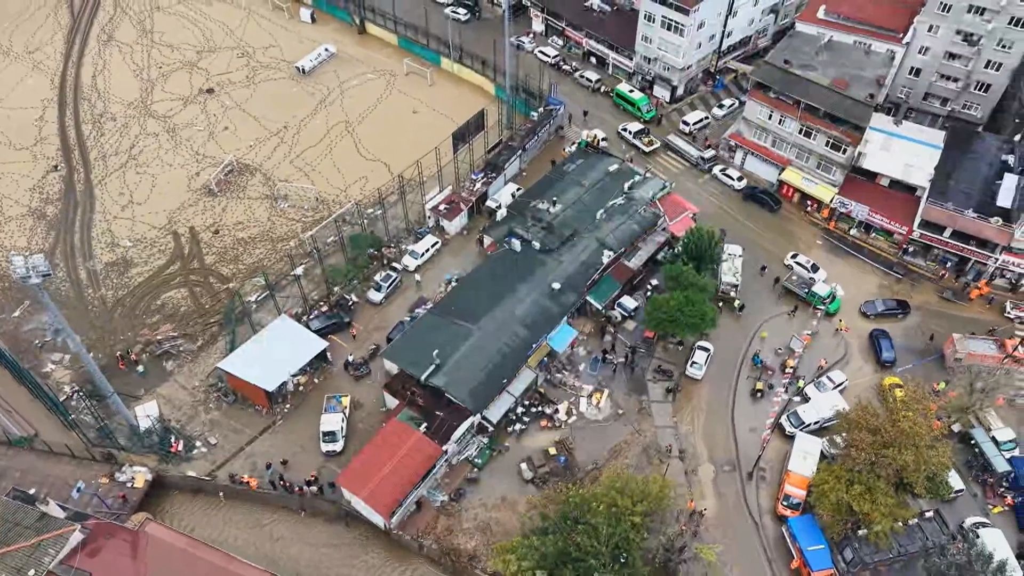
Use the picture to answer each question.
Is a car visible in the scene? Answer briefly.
Yes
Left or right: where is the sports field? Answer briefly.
left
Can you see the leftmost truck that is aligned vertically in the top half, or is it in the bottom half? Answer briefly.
bottom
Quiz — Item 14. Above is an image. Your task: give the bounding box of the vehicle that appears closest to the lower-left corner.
[318,396,350,457]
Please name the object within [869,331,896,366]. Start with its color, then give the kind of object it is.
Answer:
blue car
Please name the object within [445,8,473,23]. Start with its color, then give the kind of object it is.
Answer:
white car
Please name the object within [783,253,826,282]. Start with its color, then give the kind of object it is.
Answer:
white car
